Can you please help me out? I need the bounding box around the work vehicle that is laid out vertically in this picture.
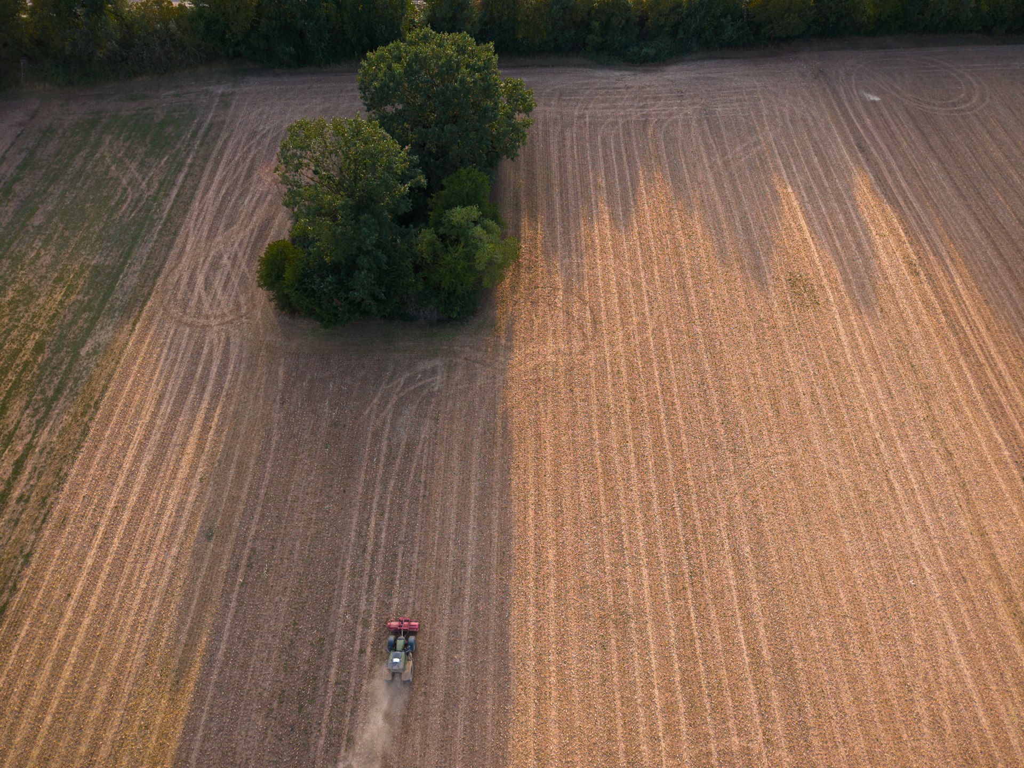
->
[379,615,417,685]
